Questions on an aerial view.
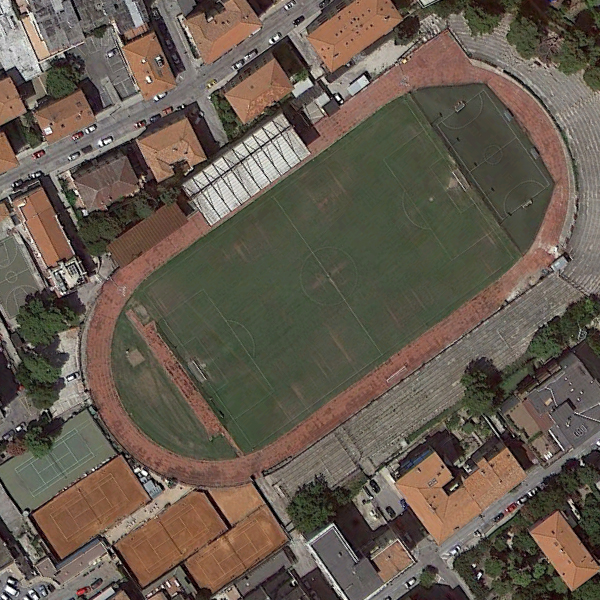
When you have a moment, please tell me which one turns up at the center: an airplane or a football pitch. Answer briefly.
football pitch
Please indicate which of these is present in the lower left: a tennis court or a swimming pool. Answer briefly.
tennis court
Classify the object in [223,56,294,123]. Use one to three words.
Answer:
house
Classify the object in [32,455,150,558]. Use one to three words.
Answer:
tennis court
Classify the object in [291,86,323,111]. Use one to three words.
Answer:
shed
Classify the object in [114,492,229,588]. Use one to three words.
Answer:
tennis court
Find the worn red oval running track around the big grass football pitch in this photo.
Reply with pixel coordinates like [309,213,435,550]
[86,31,567,489]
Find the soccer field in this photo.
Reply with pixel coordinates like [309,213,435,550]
[111,92,524,460]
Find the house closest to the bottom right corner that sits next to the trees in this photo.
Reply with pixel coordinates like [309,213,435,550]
[527,507,600,591]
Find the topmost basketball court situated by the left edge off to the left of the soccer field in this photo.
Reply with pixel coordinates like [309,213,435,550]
[0,230,50,324]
